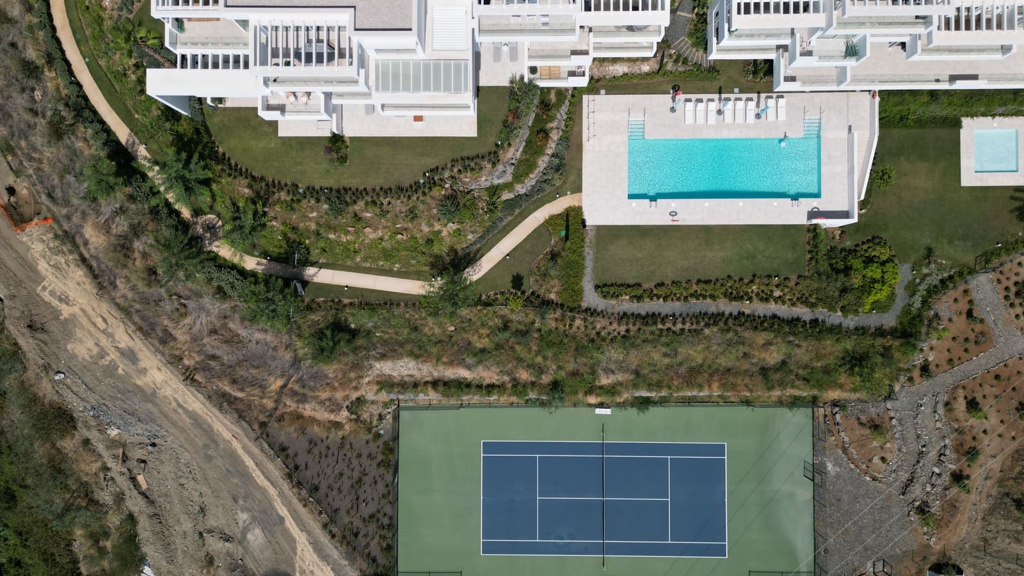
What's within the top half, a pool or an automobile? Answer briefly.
pool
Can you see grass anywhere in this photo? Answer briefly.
Yes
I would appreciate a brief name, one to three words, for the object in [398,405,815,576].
tennis court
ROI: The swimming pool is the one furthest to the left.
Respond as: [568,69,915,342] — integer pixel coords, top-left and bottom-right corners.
[582,91,855,226]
